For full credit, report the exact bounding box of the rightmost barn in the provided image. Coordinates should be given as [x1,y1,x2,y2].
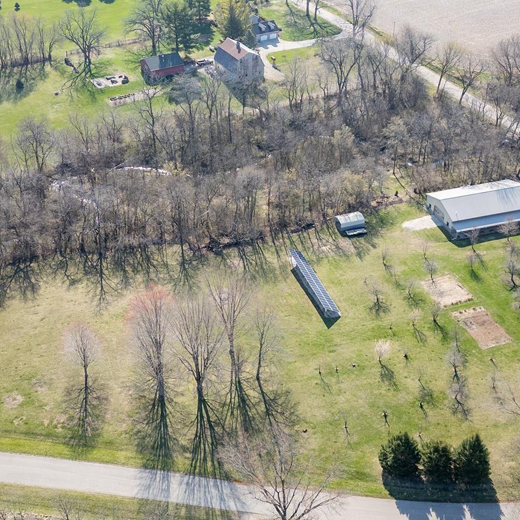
[424,180,520,246]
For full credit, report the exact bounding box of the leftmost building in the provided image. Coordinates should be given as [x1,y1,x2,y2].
[142,54,186,80]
